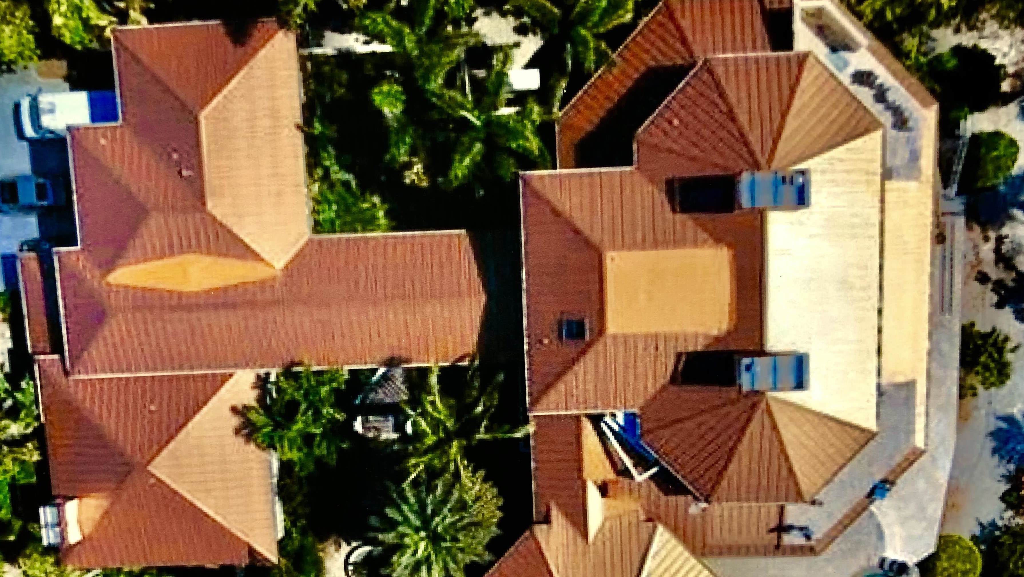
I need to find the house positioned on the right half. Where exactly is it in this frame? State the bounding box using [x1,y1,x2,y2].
[482,0,938,577]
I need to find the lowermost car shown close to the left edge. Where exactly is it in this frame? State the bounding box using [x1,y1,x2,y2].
[0,174,53,208]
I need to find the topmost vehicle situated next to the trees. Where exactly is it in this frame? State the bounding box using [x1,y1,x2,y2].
[17,91,118,142]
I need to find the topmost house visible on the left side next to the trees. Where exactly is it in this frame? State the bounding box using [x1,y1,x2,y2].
[17,18,516,377]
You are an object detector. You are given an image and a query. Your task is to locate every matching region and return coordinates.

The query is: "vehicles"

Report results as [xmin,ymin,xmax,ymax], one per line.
[17,91,118,142]
[0,174,53,208]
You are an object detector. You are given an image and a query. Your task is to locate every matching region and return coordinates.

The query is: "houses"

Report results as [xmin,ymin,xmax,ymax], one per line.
[482,0,938,577]
[17,18,516,377]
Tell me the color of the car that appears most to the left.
blue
